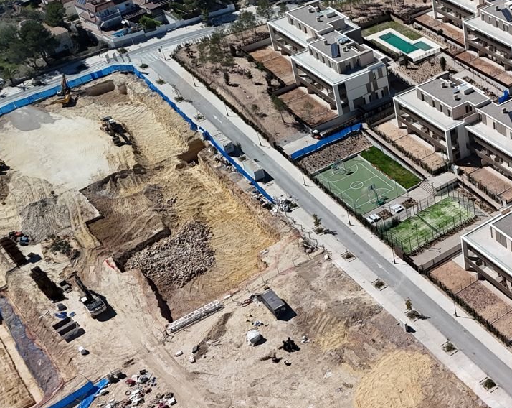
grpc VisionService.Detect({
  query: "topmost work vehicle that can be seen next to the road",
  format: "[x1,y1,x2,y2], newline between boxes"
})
[49,83,77,105]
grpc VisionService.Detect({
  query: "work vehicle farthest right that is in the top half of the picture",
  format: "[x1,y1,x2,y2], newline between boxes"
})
[103,113,120,139]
